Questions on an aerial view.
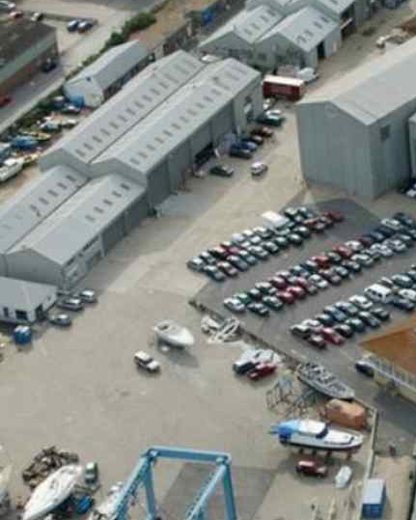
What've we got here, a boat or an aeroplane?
boat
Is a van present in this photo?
Yes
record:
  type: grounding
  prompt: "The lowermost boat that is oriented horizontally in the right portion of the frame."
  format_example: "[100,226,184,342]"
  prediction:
[267,423,364,466]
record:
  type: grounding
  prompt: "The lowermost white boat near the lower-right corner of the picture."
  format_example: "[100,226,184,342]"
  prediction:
[333,466,352,492]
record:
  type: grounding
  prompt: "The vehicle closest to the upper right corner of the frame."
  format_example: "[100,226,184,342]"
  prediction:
[369,26,394,45]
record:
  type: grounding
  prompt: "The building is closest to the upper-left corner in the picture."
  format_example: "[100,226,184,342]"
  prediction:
[0,27,58,111]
